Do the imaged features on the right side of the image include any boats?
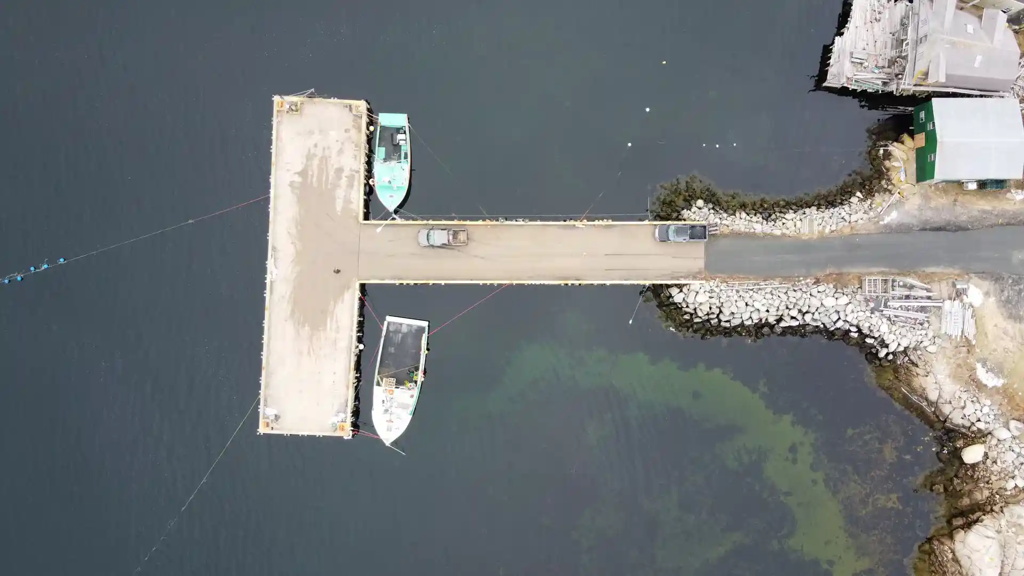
No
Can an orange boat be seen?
No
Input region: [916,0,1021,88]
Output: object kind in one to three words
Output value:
building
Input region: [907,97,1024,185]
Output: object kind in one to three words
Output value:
building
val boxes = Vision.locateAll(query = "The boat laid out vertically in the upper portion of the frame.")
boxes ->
[372,113,416,233]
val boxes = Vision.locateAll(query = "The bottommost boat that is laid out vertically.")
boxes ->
[372,317,429,455]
